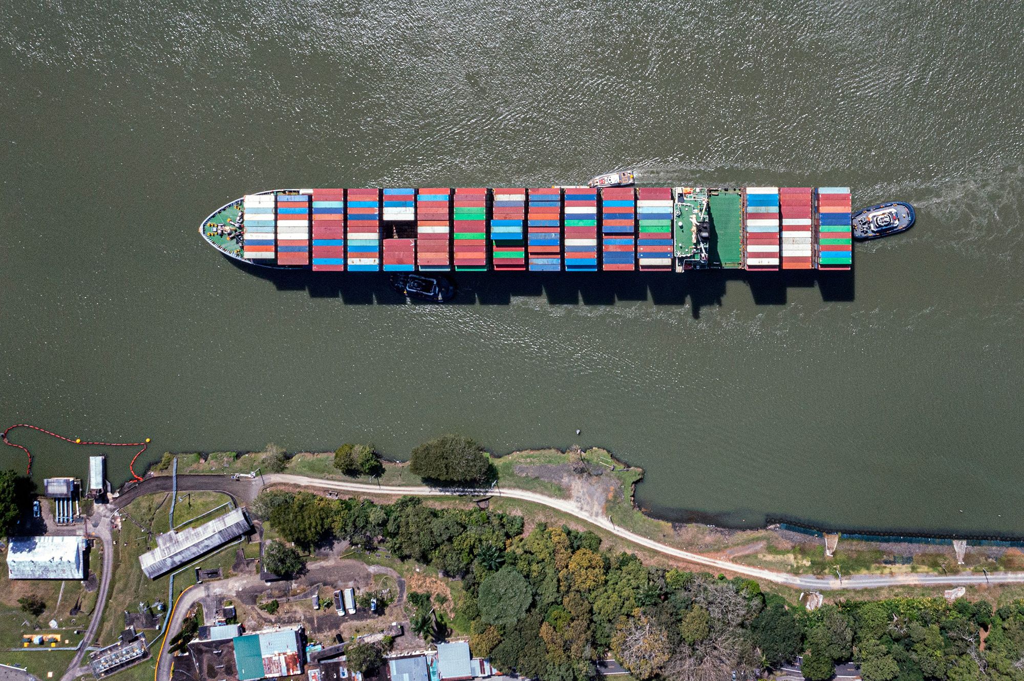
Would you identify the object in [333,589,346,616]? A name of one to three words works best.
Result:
vehicle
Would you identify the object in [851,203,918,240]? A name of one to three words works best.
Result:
boat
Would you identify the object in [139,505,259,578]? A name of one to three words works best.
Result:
building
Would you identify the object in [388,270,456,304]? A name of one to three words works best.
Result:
boat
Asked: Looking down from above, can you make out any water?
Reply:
Yes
